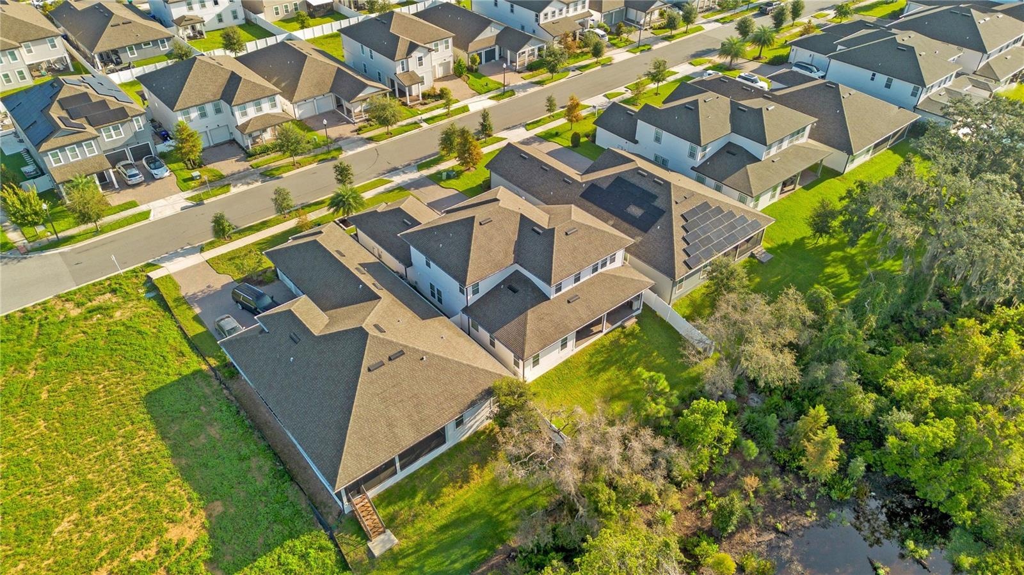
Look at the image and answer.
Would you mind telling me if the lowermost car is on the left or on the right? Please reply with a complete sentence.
You can find the lowermost car on the left side of the picture.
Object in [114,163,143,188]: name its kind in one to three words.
car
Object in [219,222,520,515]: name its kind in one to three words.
house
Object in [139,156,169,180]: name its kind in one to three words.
car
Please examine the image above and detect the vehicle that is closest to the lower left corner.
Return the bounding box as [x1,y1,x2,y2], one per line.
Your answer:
[214,311,247,339]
